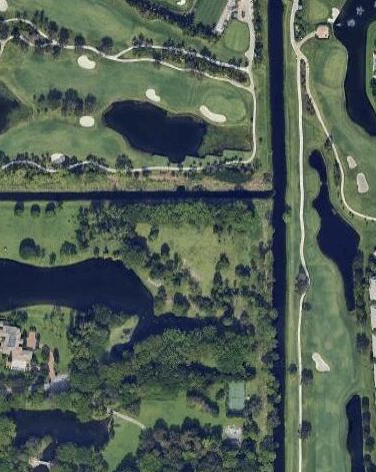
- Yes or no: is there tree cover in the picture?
Yes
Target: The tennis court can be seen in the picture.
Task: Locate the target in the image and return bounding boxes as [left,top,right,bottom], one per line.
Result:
[228,380,245,409]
